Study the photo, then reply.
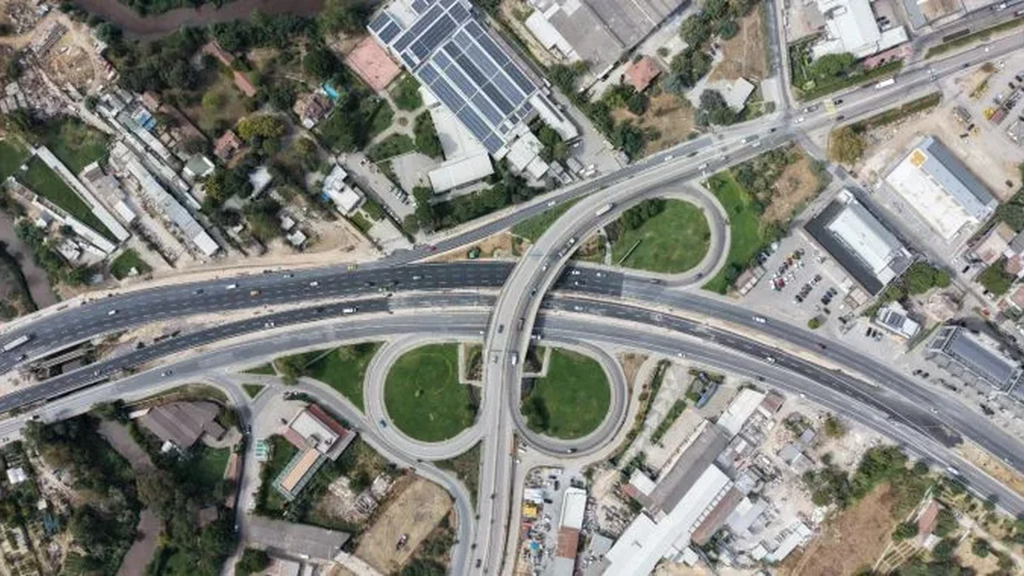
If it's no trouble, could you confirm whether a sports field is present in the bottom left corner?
No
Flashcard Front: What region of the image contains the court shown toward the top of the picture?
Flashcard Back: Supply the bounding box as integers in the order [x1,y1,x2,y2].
[347,37,400,89]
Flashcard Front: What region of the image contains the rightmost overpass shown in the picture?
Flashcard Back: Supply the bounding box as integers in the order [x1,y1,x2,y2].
[467,112,797,576]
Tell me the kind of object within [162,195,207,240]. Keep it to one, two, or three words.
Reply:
shed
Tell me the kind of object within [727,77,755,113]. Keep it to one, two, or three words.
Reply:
shed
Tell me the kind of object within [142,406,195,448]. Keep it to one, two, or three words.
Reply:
house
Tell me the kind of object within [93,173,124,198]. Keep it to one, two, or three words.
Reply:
building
